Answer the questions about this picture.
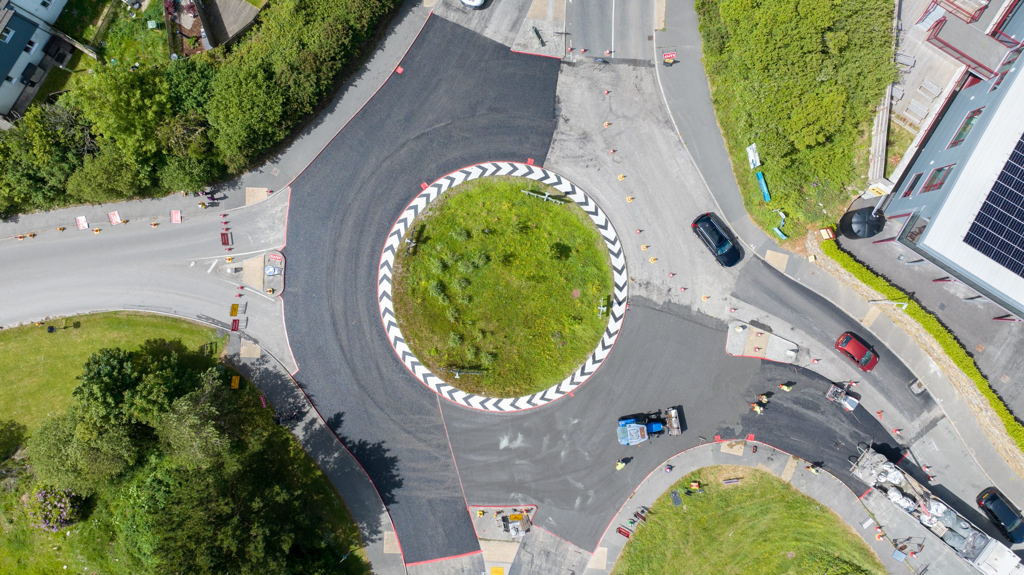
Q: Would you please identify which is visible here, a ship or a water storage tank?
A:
water storage tank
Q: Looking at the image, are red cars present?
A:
Yes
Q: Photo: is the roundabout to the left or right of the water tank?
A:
to the left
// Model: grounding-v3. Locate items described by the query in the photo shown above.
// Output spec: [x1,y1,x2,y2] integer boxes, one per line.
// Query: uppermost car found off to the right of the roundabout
[692,212,739,268]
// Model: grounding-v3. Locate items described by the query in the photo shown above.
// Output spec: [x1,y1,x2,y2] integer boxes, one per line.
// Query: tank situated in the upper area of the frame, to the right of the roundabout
[842,203,892,241]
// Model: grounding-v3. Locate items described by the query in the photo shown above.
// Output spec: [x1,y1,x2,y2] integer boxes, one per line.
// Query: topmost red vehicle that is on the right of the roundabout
[834,332,879,373]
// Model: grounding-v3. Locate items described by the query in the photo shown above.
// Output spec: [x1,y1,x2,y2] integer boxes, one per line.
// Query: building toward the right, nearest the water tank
[873,0,1024,321]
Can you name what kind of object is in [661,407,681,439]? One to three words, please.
vehicle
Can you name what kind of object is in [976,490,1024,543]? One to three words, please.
car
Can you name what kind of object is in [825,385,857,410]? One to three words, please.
work vehicle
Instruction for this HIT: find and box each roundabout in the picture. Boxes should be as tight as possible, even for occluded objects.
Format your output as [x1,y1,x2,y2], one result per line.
[379,162,628,411]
